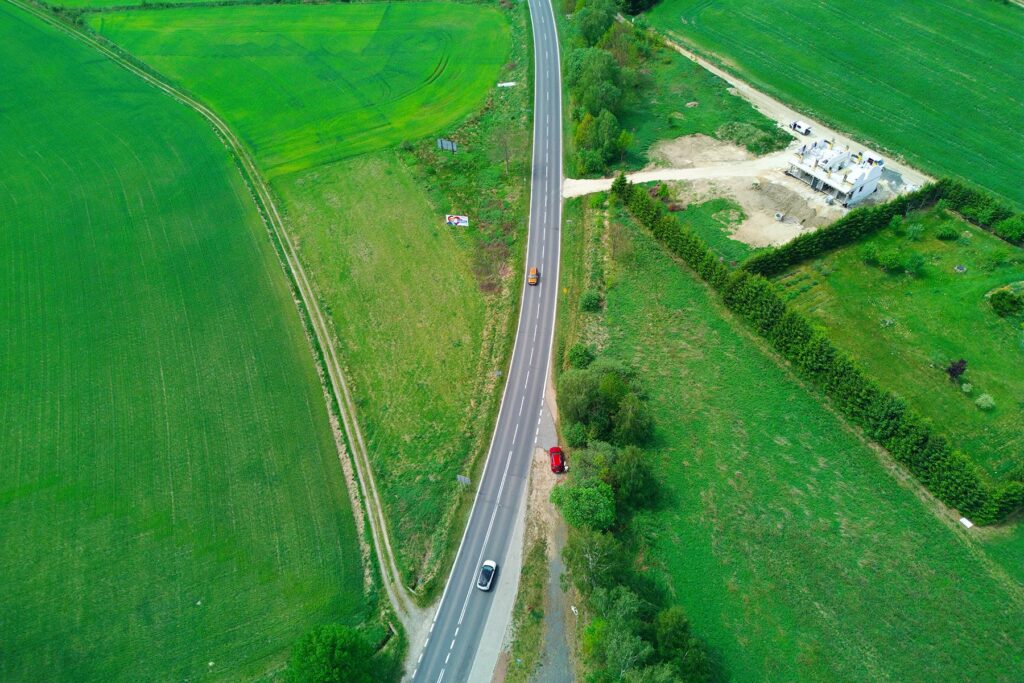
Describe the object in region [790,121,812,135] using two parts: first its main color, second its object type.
white vehicle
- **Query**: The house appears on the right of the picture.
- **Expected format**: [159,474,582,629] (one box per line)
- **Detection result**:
[783,138,882,206]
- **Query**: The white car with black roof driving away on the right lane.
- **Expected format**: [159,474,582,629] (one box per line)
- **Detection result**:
[477,561,496,592]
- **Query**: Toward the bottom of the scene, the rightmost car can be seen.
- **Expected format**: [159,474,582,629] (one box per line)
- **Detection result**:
[550,448,564,474]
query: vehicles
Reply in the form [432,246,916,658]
[550,448,564,474]
[790,121,812,135]
[527,267,538,284]
[477,561,496,592]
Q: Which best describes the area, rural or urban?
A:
rural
